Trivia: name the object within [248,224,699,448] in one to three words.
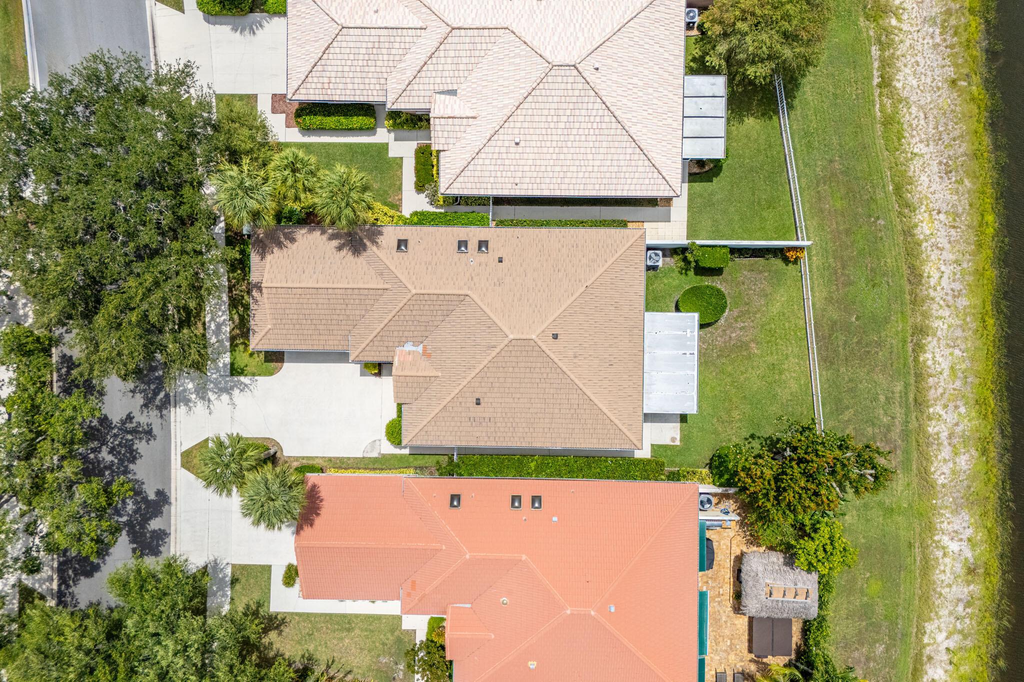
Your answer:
house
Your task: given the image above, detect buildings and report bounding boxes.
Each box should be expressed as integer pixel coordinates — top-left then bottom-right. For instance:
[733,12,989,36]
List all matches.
[294,472,709,682]
[248,224,699,448]
[286,0,726,205]
[735,550,820,621]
